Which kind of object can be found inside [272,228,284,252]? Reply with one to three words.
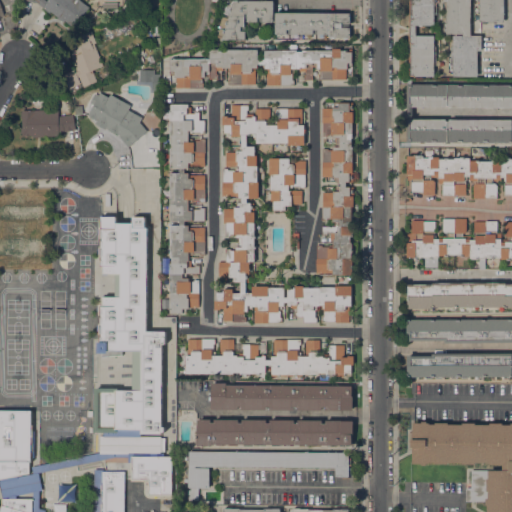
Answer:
swimming pool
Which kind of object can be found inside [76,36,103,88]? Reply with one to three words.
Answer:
house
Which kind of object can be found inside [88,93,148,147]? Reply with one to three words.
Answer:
building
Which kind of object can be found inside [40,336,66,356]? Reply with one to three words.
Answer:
sports court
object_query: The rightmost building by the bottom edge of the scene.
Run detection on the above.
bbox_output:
[412,422,512,512]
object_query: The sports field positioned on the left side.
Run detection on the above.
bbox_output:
[170,0,210,42]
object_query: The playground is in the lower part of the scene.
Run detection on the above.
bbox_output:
[0,188,102,464]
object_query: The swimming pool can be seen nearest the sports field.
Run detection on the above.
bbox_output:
[128,86,152,101]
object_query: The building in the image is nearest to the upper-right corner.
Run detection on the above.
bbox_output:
[474,0,504,34]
